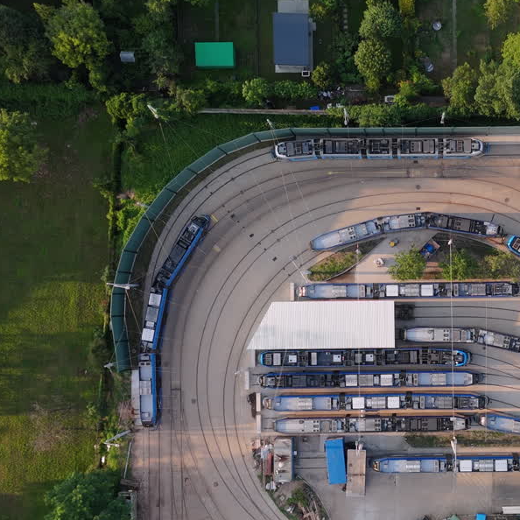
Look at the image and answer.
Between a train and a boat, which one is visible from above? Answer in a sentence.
Visible in the photo is a train.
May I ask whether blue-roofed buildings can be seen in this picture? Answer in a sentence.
Yes, this view includes a blue-roofed building.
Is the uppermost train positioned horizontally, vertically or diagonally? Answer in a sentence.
I'd say the uppermost train is aligned horizontally in the picture.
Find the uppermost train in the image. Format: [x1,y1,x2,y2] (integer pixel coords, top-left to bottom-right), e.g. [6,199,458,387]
[275,138,485,160]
